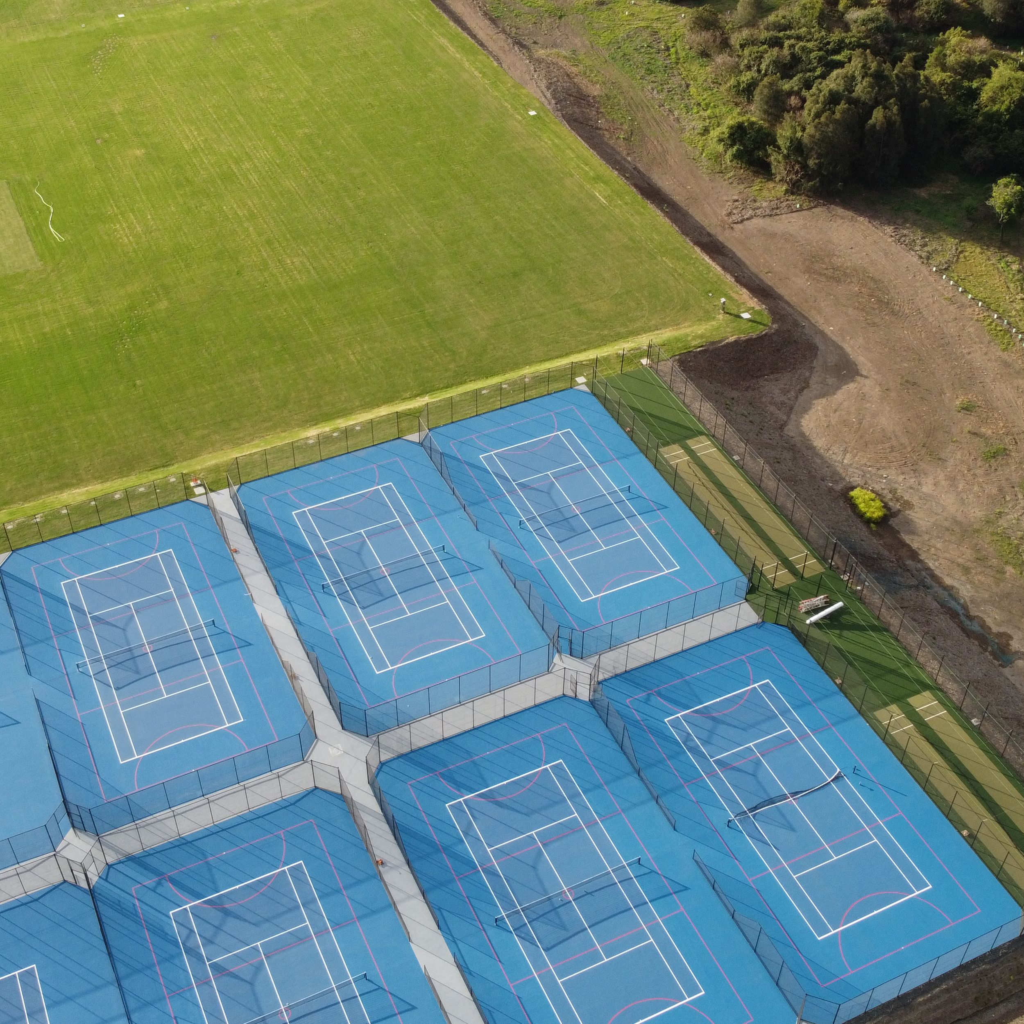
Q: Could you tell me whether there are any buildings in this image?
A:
No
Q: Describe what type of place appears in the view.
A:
sports ground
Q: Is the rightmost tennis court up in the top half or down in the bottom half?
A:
bottom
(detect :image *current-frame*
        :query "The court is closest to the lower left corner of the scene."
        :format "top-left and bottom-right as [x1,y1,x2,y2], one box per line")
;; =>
[0,879,129,1024]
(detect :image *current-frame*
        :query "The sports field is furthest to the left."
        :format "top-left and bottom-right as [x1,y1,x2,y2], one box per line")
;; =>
[0,0,771,553]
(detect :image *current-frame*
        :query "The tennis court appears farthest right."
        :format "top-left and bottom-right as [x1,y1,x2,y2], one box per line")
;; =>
[590,621,1022,1024]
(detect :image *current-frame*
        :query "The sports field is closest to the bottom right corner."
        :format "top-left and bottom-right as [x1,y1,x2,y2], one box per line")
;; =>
[589,365,1024,908]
